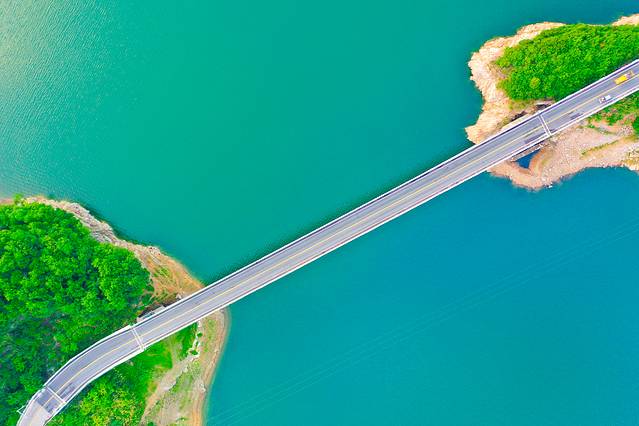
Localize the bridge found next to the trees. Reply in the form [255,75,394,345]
[31,112,553,415]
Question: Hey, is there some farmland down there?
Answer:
No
